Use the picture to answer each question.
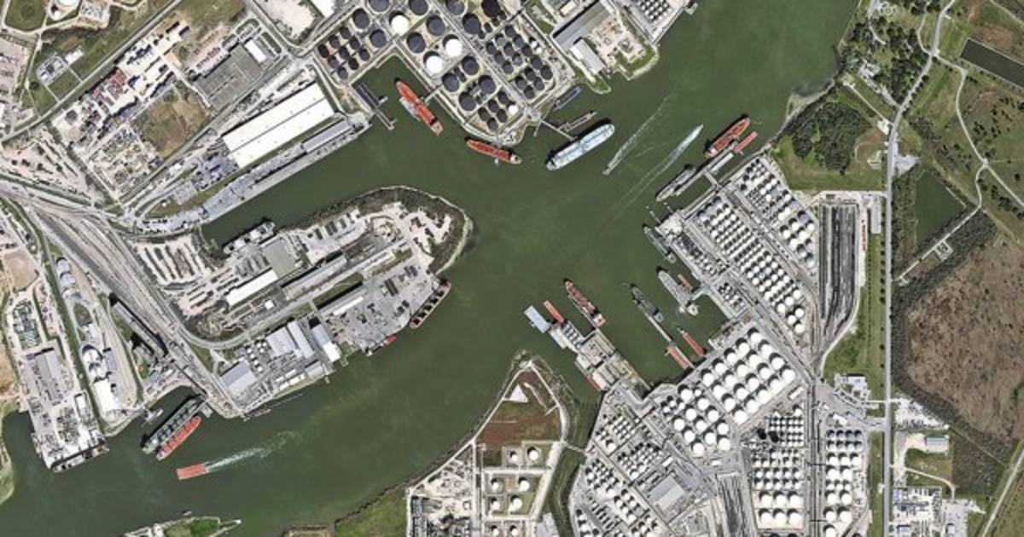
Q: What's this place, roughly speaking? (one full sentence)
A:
This image shows a port.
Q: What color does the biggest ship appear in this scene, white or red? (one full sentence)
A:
The biggest ship looks white in the image.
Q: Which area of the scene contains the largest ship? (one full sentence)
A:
The largest ship sits in the top section of the image.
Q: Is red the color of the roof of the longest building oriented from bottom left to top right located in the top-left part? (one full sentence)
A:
No, from above the roof of the longest building oriented from bottom left to top right located in the top-left part looks white.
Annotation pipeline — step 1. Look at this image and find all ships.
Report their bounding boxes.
[156,418,200,460]
[565,281,605,328]
[176,464,205,474]
[657,270,691,312]
[553,87,581,112]
[645,227,670,256]
[525,307,550,332]
[410,281,451,327]
[563,113,591,130]
[705,117,750,158]
[396,81,443,135]
[467,139,521,163]
[657,166,697,200]
[356,88,378,109]
[667,343,688,369]
[177,468,206,478]
[734,133,757,151]
[399,97,421,122]
[683,333,704,356]
[53,449,109,472]
[545,301,563,324]
[545,122,614,171]
[711,153,735,172]
[224,221,276,253]
[141,399,201,452]
[631,286,664,324]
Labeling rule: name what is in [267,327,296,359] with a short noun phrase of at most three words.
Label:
building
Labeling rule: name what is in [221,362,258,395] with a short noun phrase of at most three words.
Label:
building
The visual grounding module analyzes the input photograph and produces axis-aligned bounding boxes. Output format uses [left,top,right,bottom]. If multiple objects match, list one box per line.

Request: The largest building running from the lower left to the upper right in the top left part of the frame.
[222,82,337,170]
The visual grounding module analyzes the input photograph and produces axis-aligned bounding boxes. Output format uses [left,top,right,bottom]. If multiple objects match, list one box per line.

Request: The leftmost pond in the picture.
[916,174,965,243]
